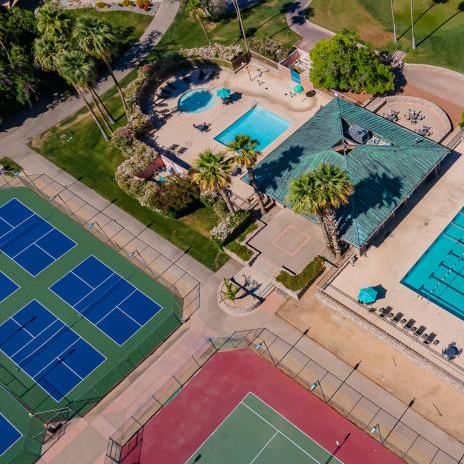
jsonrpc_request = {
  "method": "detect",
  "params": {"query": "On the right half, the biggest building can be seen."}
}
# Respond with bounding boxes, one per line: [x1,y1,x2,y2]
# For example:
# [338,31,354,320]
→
[240,91,450,258]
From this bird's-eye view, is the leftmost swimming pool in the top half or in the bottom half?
top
